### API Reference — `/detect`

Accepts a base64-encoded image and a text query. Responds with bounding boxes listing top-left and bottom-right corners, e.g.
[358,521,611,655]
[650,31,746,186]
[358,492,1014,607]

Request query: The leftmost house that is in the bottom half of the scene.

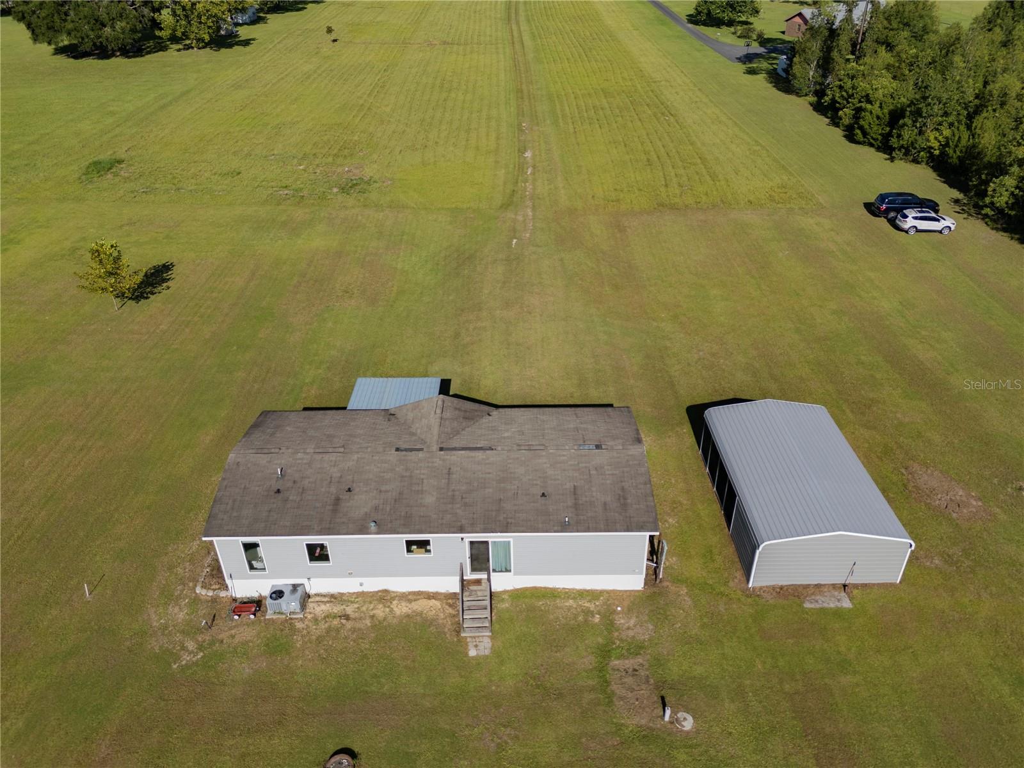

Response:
[202,394,661,596]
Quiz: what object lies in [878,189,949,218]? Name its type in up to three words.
car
